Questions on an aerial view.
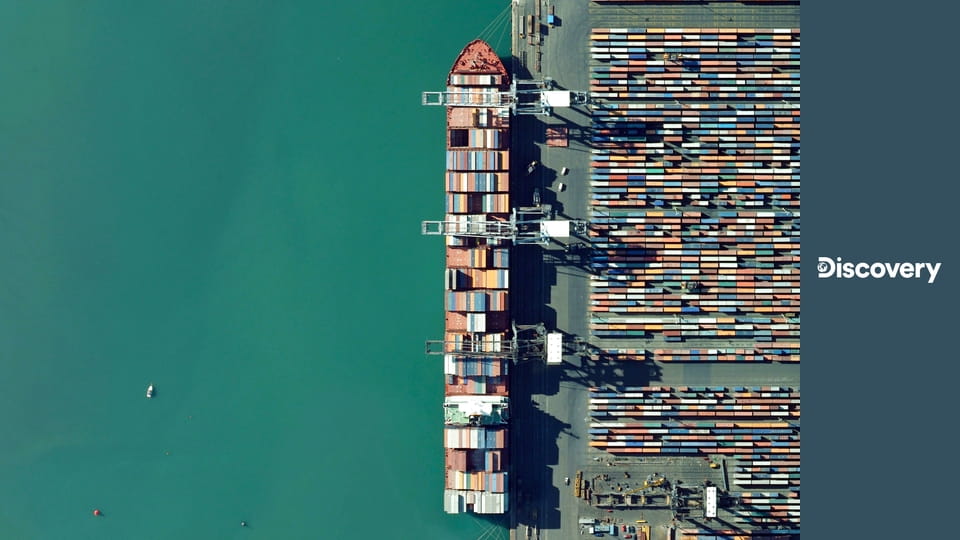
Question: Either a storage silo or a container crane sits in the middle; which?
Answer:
container crane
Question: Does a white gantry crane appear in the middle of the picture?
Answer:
Yes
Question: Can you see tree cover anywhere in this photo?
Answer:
No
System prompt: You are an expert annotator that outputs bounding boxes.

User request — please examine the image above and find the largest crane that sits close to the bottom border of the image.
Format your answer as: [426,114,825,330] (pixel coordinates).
[672,478,740,532]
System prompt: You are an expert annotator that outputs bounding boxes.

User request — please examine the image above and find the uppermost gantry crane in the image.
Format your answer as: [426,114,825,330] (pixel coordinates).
[425,75,588,119]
